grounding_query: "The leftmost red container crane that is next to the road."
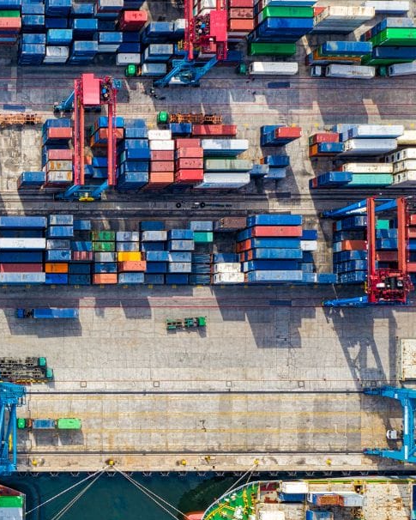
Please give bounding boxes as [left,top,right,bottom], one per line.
[54,71,126,203]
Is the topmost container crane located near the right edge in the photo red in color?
Yes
